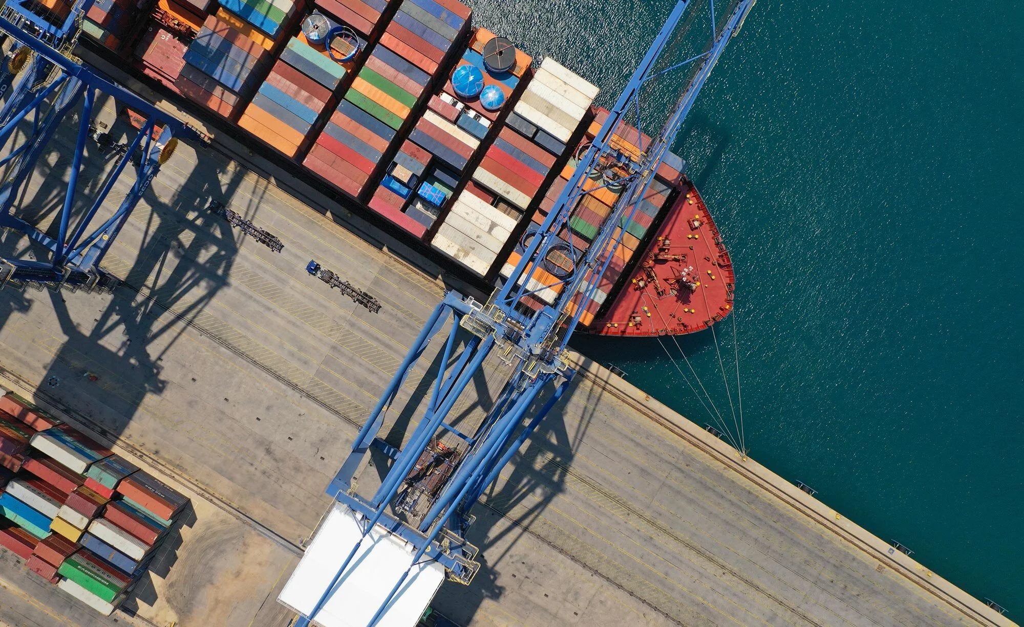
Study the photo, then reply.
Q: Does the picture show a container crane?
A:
Yes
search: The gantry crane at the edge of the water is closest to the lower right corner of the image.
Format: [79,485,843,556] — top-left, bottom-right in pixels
[271,0,759,627]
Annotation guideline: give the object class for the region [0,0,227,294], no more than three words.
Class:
container crane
